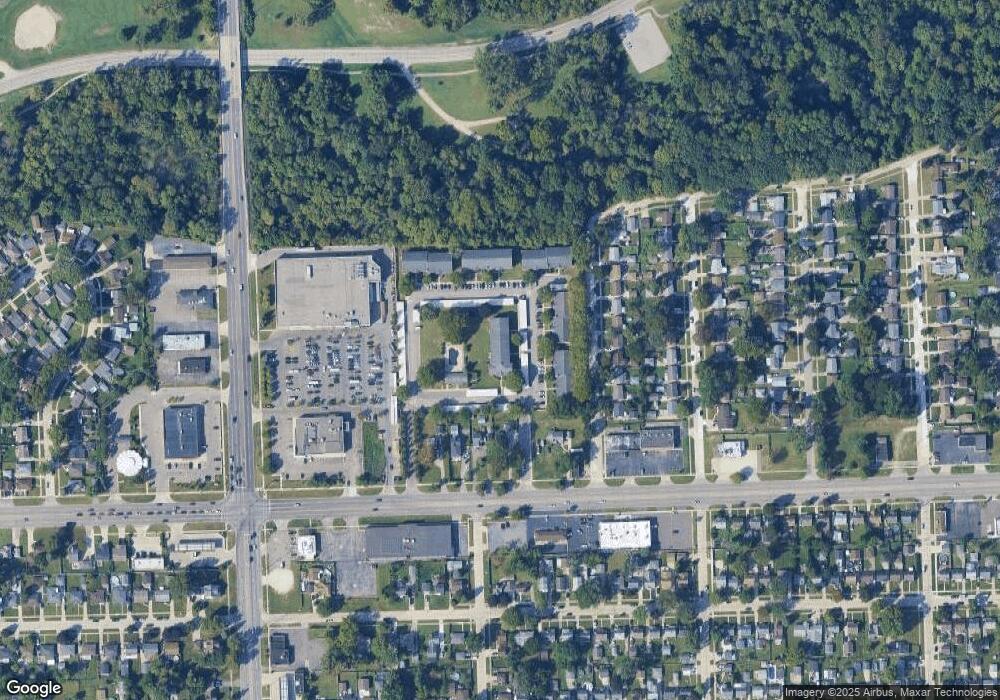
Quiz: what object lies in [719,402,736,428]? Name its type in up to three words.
house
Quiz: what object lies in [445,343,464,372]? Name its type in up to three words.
swimming pool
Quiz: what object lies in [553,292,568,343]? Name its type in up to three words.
building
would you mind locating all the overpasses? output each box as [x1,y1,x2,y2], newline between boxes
[220,34,242,98]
